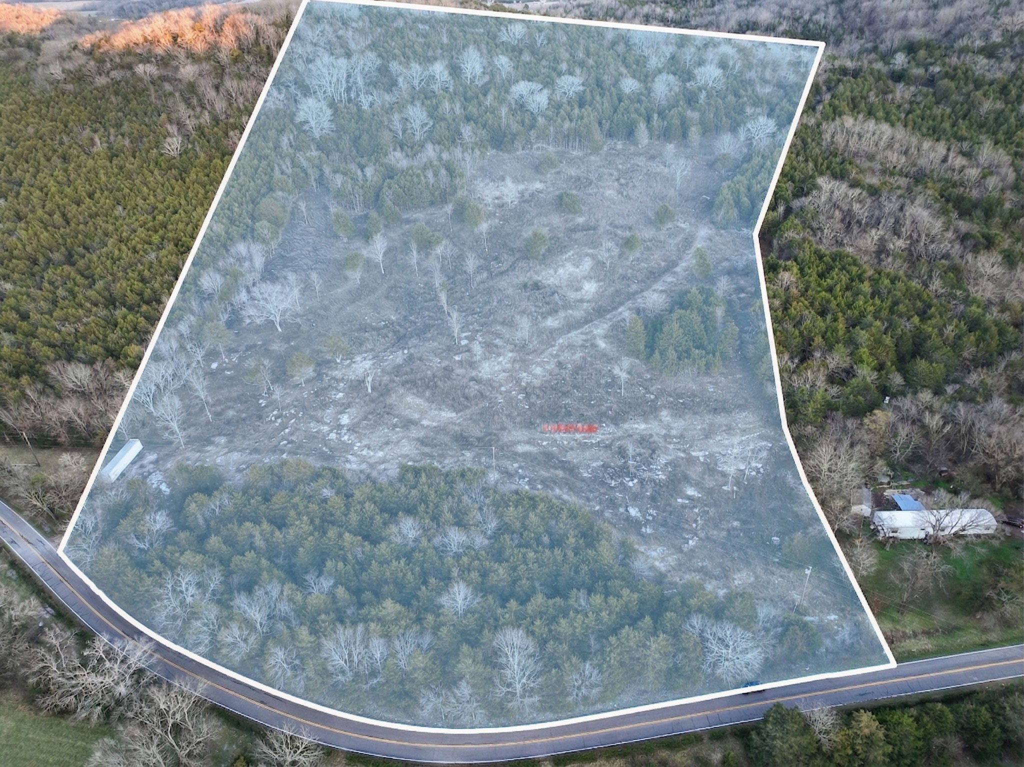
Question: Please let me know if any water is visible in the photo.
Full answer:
No, the scene doesn't show any water.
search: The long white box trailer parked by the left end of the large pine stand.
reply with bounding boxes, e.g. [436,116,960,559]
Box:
[99,440,143,480]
